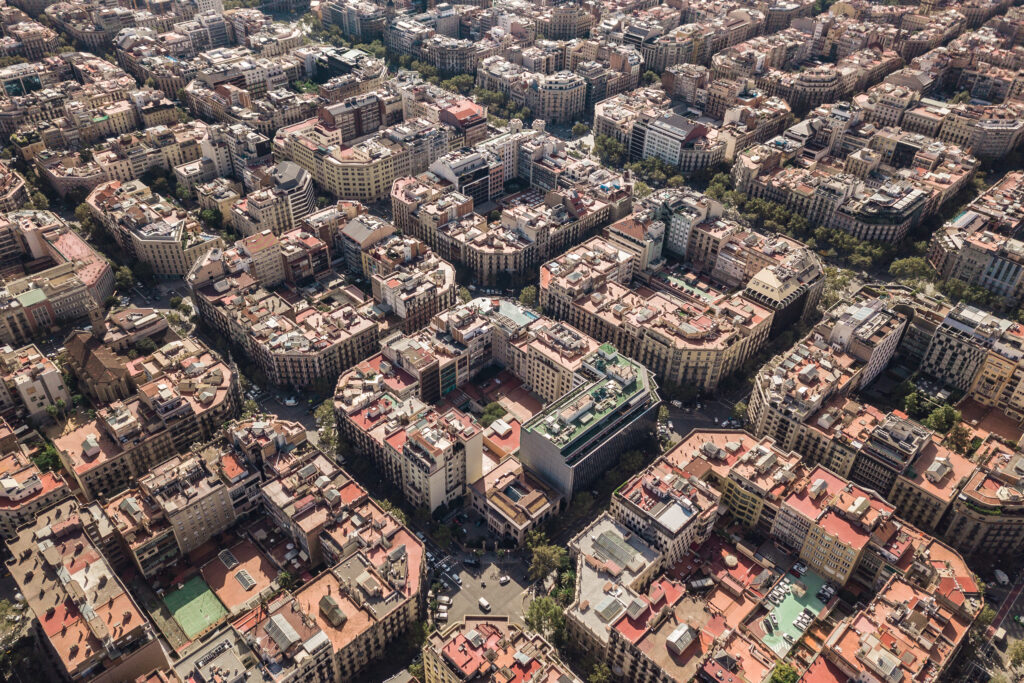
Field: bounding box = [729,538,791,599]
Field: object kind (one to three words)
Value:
building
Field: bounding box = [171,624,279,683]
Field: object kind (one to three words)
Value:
building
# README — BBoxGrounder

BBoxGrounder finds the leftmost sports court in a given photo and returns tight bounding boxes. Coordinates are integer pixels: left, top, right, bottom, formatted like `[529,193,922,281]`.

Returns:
[161,574,234,647]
